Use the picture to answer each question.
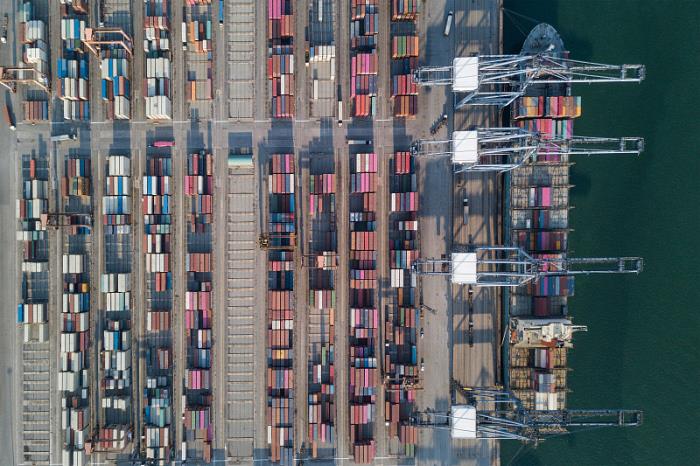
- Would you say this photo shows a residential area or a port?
port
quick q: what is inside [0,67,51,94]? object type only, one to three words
container crane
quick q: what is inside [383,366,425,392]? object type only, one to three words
container crane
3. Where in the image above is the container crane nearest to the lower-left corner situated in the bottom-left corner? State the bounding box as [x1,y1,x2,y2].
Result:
[79,424,134,454]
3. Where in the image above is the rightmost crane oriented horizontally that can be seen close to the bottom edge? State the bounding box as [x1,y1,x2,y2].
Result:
[407,370,649,445]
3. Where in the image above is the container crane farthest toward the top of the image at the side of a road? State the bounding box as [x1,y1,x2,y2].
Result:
[79,27,134,57]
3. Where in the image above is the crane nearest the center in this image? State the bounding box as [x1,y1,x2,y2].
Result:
[297,251,339,270]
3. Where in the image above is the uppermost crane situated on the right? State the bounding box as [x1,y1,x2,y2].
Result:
[407,51,649,118]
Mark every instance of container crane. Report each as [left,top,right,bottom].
[383,366,425,392]
[34,211,93,230]
[253,233,297,251]
[407,370,649,445]
[297,251,339,270]
[407,128,649,180]
[79,27,134,57]
[407,241,649,286]
[407,51,649,118]
[79,424,134,454]
[0,67,51,94]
